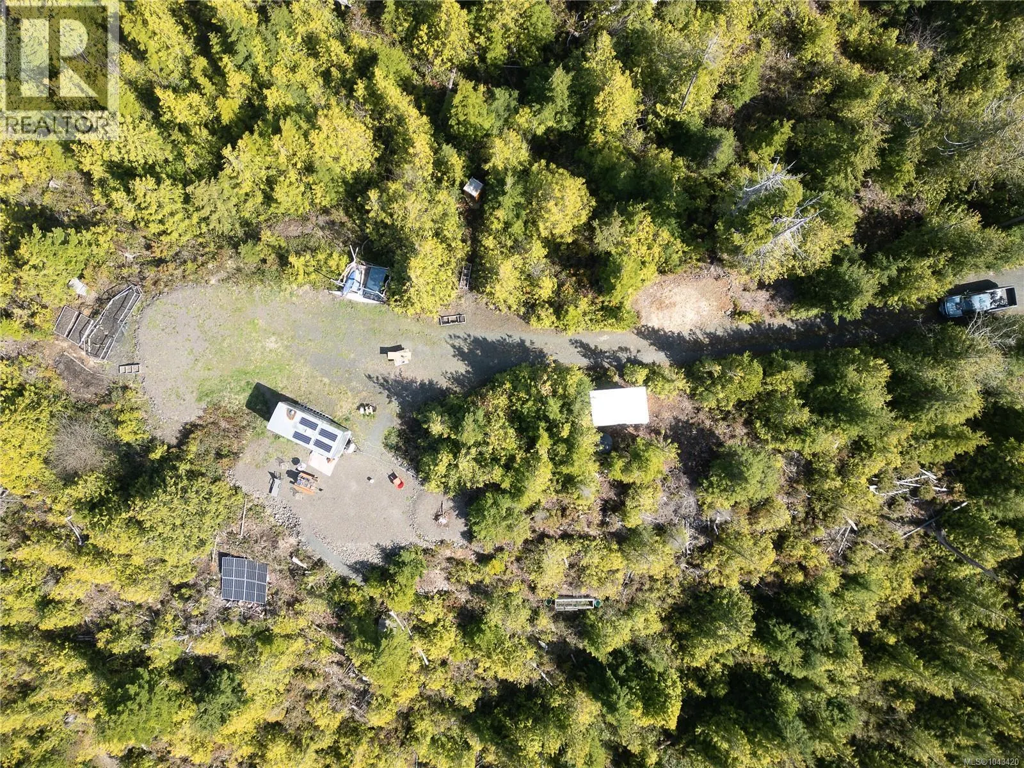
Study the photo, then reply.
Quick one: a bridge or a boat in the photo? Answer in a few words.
boat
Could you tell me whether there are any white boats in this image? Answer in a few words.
Yes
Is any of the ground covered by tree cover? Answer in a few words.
Yes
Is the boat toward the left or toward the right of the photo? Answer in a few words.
left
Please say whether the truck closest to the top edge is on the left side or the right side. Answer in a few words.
right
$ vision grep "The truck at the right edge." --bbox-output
[935,283,1019,320]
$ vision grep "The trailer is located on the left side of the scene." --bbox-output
[269,401,365,457]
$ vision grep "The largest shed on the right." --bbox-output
[590,387,649,427]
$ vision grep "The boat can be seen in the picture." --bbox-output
[325,267,387,306]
